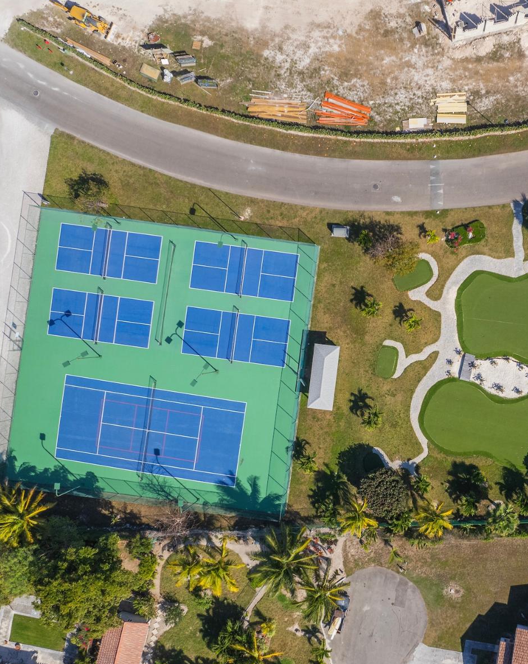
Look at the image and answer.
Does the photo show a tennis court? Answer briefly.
Yes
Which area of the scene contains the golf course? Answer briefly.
right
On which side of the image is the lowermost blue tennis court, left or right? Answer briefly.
left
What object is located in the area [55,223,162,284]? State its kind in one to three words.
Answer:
sports court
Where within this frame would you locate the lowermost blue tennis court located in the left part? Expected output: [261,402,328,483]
[55,374,247,487]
